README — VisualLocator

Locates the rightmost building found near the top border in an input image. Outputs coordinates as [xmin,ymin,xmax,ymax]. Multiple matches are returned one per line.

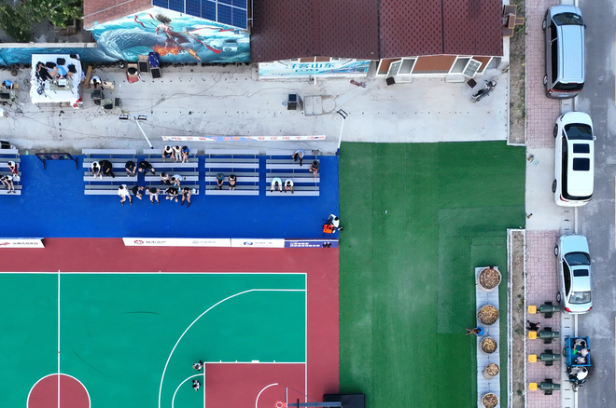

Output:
[376,0,502,91]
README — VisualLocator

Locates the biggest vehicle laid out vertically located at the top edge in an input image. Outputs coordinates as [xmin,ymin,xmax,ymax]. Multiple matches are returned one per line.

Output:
[543,5,588,100]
